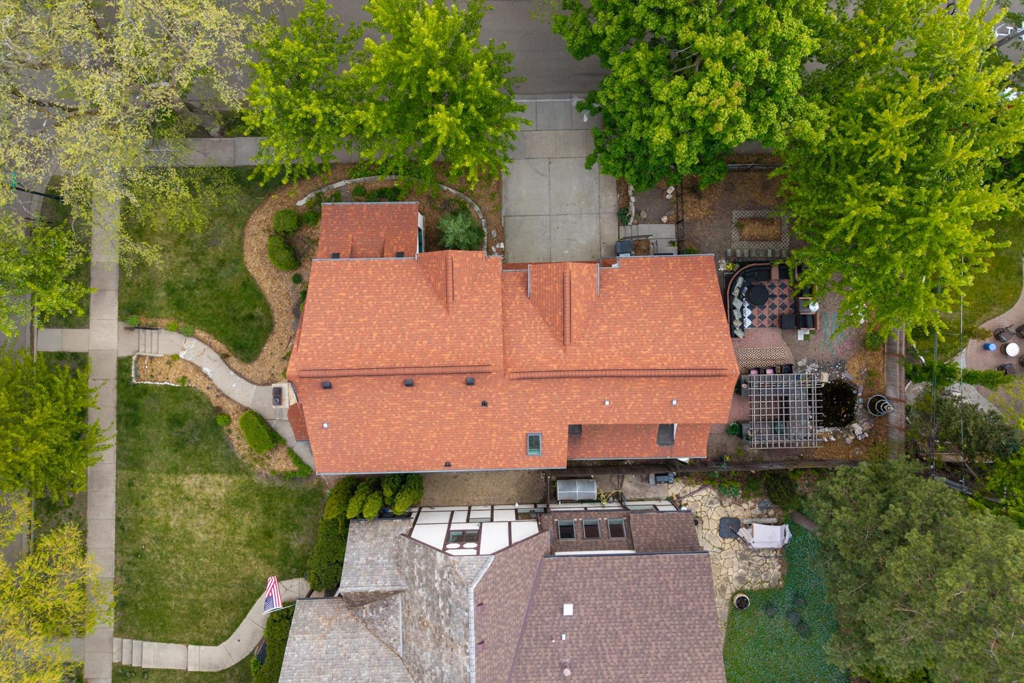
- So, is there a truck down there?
No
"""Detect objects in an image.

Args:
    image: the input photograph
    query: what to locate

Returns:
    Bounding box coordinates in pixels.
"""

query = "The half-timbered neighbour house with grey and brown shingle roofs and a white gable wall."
[279,497,725,683]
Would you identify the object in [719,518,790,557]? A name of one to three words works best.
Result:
umbrella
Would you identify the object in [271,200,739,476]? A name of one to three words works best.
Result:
house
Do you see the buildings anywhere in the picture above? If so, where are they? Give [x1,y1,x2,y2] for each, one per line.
[271,200,739,476]
[279,497,725,683]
